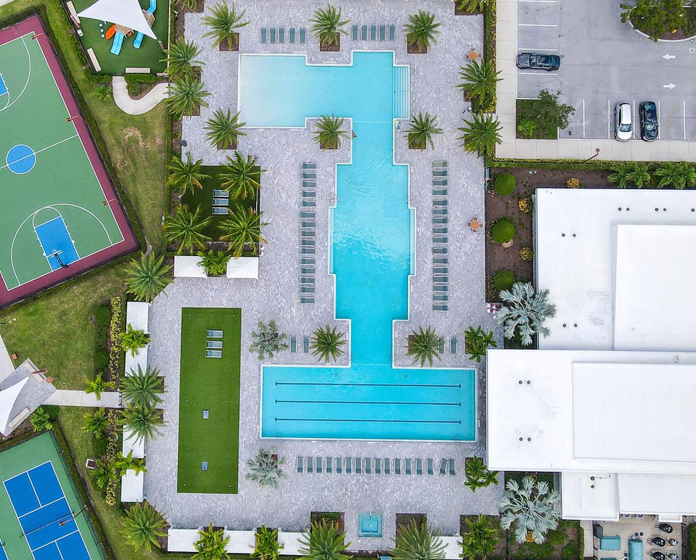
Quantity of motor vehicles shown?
three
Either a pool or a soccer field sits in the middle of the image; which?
pool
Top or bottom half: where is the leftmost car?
top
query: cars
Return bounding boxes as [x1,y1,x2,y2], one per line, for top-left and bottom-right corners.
[638,102,660,141]
[614,103,634,141]
[517,51,559,71]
